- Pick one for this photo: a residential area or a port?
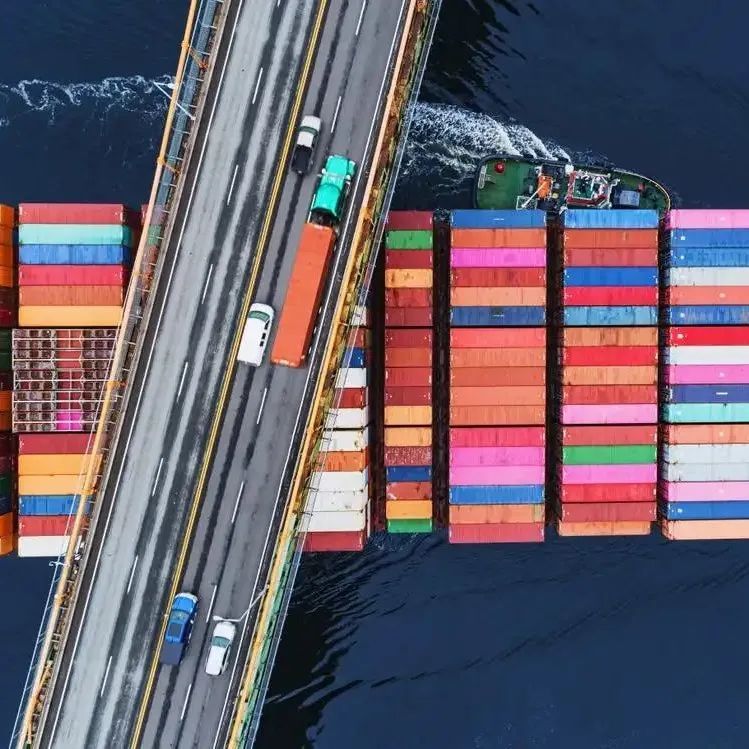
port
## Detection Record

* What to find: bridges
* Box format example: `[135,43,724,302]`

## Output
[7,0,444,749]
